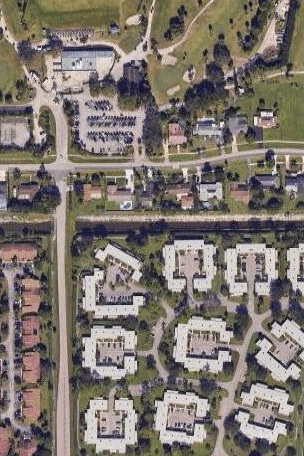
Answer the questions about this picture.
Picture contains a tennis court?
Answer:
Yes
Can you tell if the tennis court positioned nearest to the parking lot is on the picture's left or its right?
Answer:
left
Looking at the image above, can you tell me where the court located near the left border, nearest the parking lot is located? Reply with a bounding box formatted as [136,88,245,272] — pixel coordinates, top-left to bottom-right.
[1,118,30,145]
